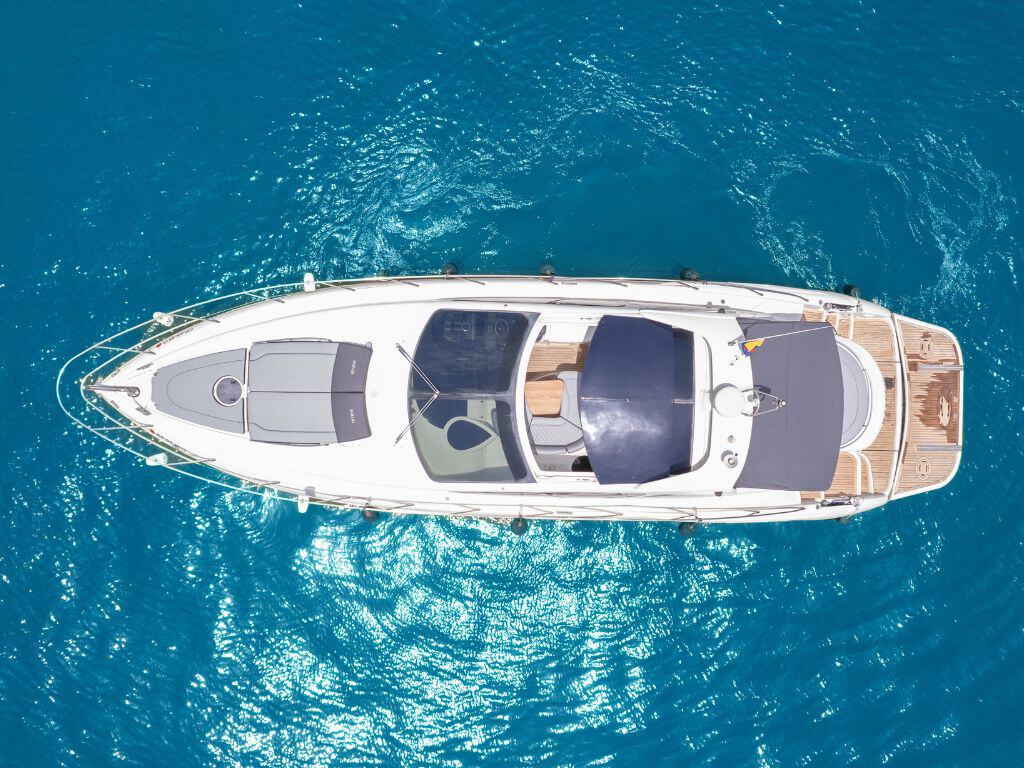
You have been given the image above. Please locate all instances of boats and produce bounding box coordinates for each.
[56,274,965,522]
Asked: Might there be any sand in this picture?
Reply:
No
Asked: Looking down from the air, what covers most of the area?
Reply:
water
